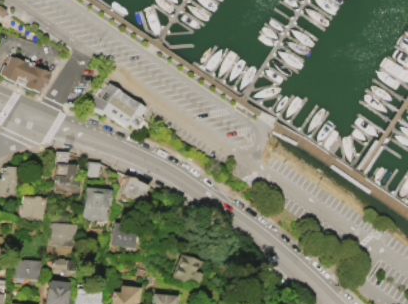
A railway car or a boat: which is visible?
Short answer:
boat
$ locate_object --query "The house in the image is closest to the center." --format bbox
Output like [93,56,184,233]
[122,176,152,200]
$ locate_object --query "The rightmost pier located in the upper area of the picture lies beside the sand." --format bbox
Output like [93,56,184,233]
[343,48,408,176]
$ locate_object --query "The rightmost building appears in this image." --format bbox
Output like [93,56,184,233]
[172,254,205,286]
